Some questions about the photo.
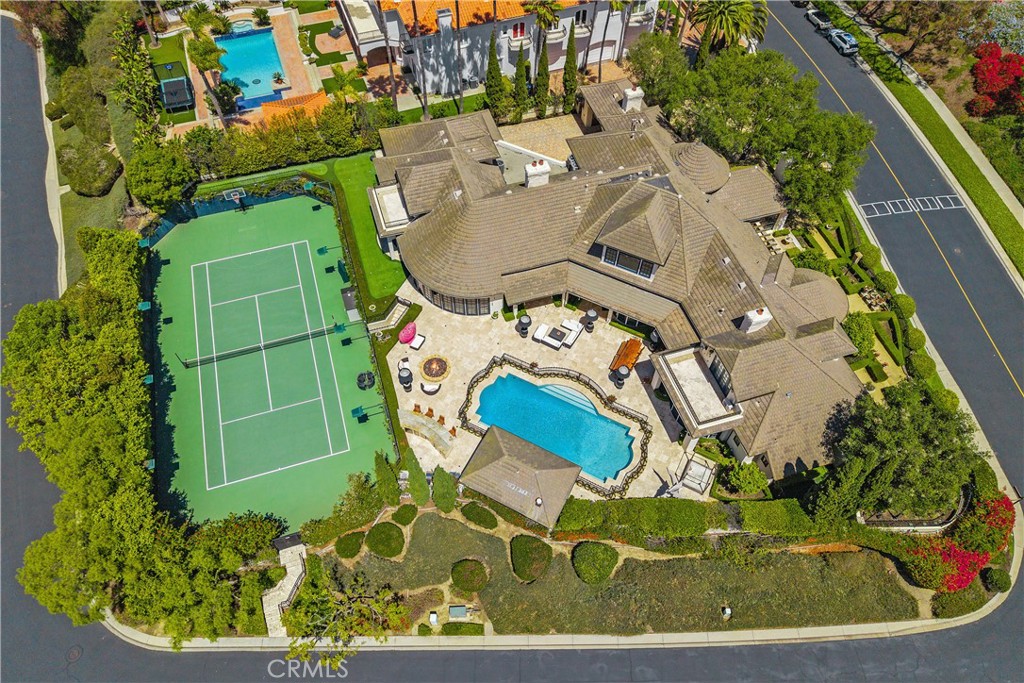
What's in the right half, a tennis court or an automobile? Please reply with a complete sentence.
Looking in the right half, you will find an automobile.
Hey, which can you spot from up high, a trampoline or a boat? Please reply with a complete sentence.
There is a trampoline in the scene.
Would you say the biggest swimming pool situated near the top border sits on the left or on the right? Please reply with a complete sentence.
The biggest swimming pool situated near the top border sits on the left side.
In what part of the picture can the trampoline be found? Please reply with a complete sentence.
The trampoline appears toward the top left of the photo.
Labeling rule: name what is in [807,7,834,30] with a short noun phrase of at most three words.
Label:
car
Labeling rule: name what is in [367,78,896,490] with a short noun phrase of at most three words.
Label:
house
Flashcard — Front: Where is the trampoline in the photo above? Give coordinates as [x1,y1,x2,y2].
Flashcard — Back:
[155,65,196,113]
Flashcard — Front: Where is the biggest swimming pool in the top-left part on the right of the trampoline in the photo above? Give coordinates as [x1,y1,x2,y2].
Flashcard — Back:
[213,27,291,104]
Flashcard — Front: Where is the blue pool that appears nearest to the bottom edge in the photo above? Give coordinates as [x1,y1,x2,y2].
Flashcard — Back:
[468,366,642,489]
